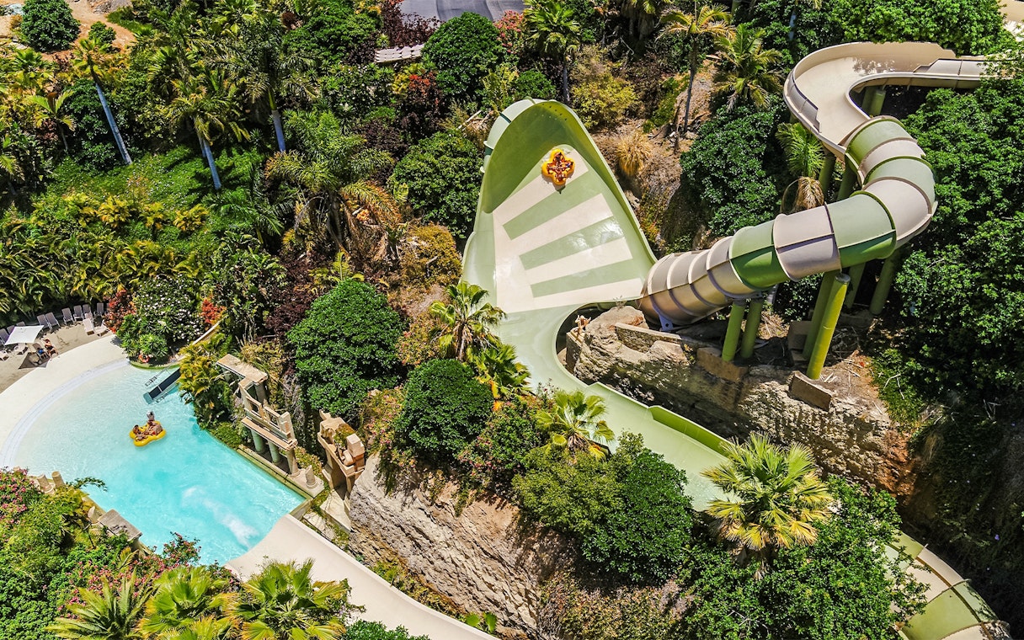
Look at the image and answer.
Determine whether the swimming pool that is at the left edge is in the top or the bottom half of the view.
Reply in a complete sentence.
The bottom half of the photo is where the swimming pool that is at the left edge is.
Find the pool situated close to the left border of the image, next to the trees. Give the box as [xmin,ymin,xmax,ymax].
[0,356,294,562]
